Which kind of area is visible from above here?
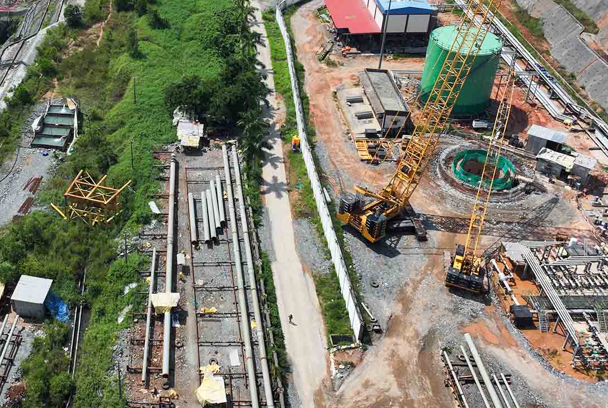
industrial area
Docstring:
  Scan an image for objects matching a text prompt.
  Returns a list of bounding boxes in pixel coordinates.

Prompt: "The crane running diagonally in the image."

[335,0,518,249]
